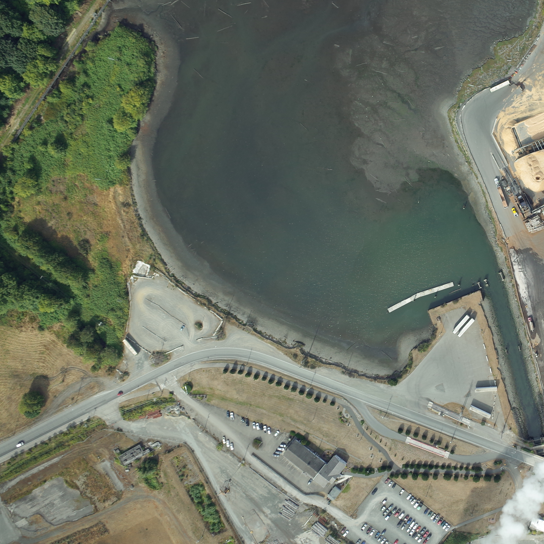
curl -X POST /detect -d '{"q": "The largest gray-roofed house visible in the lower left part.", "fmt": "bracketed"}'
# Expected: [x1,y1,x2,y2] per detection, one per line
[119,443,152,465]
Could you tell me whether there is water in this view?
Yes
